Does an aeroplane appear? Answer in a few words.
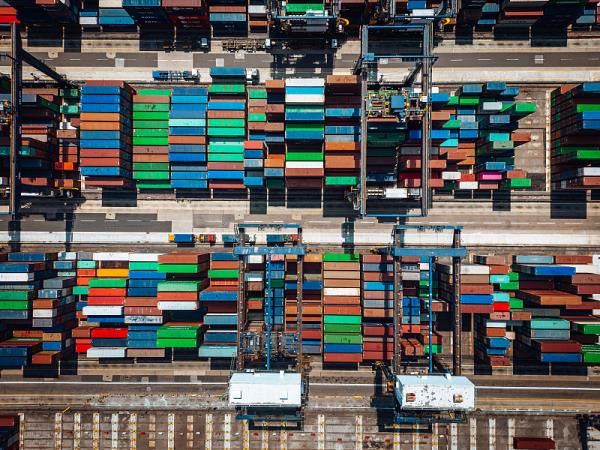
No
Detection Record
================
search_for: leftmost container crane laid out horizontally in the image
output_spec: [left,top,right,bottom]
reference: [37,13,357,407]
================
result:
[262,0,350,42]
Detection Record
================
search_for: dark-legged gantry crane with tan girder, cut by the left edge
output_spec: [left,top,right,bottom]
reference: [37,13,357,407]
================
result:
[0,18,104,216]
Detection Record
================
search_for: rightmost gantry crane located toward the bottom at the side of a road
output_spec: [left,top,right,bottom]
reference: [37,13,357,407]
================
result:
[373,227,477,426]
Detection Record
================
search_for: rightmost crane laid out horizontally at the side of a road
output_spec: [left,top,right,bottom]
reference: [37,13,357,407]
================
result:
[368,0,462,42]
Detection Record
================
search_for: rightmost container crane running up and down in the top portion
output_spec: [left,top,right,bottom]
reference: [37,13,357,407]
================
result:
[340,22,442,217]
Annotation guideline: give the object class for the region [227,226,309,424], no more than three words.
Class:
container crane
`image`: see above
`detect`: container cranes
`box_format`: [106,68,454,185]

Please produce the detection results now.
[262,0,350,42]
[0,18,104,216]
[368,0,462,42]
[227,226,309,424]
[340,22,442,217]
[373,227,477,426]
